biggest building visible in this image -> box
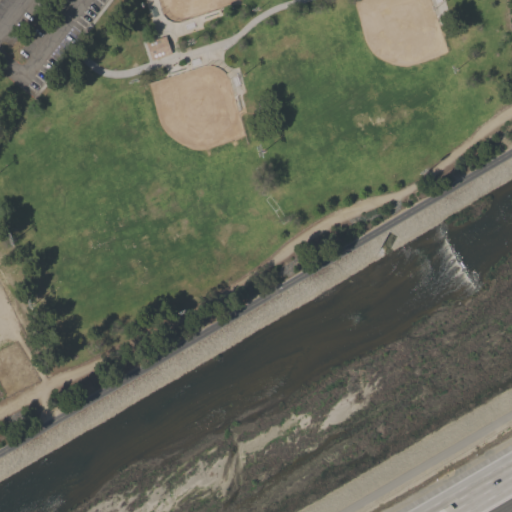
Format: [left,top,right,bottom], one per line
[146,36,172,60]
